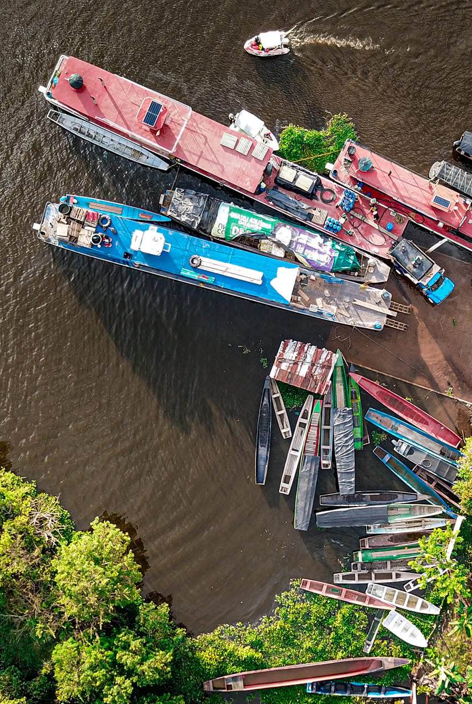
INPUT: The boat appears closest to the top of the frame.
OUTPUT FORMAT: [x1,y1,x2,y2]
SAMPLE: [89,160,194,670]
[244,10,305,58]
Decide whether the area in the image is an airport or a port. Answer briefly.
port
